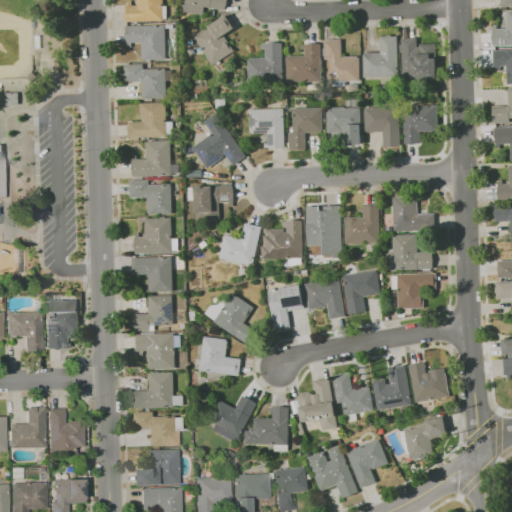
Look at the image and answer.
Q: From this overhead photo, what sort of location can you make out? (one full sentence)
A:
The picture captures a residential area.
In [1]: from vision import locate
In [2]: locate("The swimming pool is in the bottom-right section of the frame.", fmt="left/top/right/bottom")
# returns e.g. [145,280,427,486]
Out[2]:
[387,432,406,458]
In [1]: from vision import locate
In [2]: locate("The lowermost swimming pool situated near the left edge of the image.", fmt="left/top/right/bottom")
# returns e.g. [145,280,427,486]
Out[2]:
[12,450,36,462]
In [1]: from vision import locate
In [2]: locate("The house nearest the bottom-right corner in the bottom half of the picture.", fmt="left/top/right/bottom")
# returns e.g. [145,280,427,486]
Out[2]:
[404,414,447,458]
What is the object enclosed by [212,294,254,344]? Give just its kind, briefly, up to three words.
house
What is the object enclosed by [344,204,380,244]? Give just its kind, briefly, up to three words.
house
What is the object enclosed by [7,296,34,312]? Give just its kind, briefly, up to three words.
swimming pool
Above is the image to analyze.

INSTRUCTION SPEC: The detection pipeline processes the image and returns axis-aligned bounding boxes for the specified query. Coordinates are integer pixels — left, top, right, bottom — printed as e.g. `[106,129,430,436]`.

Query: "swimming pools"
[181,454,190,478]
[387,432,406,458]
[12,450,36,462]
[7,296,34,312]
